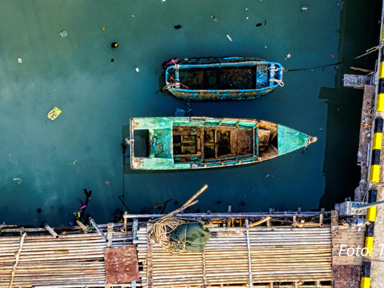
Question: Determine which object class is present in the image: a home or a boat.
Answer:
boat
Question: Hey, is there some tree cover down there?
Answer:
No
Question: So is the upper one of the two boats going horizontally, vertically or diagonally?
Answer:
horizontally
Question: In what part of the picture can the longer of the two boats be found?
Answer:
center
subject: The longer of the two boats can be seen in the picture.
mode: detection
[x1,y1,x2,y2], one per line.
[125,117,318,170]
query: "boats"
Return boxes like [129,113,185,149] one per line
[162,54,284,103]
[125,117,318,170]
